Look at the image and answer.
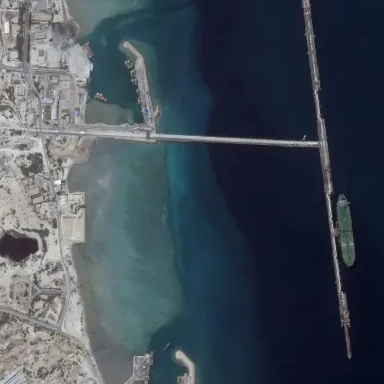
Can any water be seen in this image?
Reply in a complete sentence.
Yes, water shows up in the scene.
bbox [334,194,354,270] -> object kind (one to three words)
ship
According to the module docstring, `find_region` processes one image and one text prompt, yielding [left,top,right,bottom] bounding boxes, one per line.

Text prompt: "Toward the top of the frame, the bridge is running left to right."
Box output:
[43,129,320,147]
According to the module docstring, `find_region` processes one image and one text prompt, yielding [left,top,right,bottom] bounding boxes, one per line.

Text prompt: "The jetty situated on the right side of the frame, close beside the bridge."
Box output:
[302,0,351,360]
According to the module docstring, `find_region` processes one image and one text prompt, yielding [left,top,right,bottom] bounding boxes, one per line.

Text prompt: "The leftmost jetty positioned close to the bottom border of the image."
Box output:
[123,355,152,384]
